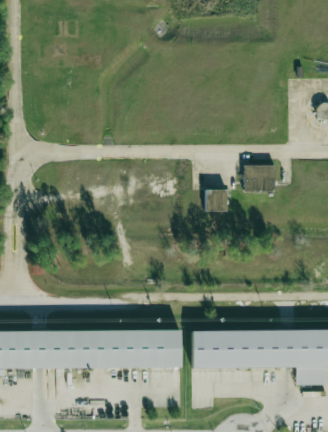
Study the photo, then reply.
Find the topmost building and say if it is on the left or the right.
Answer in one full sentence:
You can find the topmost building on the right side of the picture.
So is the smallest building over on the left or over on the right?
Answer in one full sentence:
The smallest building sits on the right side.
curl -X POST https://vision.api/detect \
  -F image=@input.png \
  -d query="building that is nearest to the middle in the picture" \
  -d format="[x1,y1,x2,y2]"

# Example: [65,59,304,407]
[204,190,228,212]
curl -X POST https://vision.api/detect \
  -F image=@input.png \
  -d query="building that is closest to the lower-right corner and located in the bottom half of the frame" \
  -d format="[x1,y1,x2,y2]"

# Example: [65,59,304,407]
[192,330,328,386]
